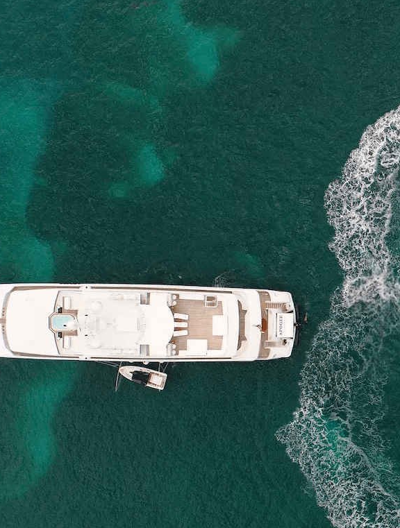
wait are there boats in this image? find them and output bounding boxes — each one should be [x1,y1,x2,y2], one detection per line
[119,365,167,394]
[0,283,307,392]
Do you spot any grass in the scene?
No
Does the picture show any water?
Yes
